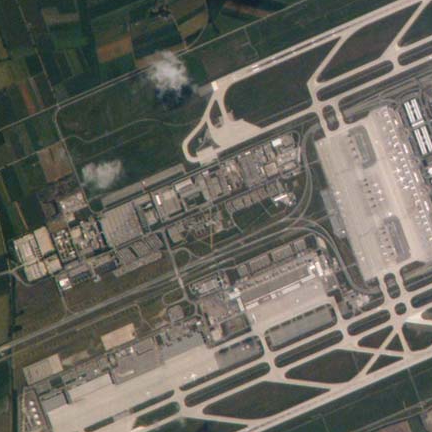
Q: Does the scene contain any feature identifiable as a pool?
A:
No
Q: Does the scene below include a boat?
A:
No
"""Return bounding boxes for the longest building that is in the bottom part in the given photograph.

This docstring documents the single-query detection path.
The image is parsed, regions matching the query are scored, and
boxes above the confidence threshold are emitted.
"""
[239,263,313,303]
